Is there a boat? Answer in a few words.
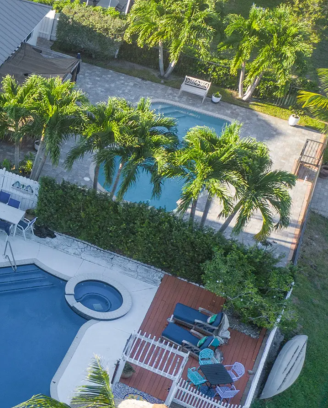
Yes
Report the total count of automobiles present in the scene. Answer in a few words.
0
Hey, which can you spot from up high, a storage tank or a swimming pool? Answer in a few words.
swimming pool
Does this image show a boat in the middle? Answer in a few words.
No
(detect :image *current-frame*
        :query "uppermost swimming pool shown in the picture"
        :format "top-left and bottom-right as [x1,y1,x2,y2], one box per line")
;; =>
[93,96,245,215]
